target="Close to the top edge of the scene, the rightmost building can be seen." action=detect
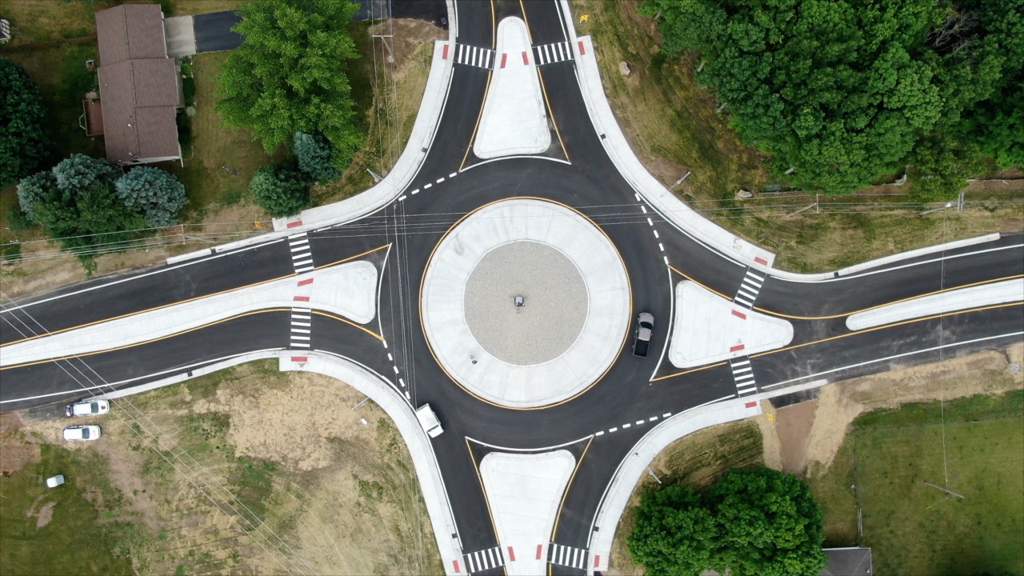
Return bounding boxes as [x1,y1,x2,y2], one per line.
[78,3,195,166]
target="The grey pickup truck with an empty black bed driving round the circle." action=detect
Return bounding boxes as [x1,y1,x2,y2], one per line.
[632,311,654,358]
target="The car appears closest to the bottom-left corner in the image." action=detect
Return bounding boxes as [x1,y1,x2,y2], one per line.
[63,424,104,442]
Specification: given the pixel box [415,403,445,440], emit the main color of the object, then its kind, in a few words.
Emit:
white van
